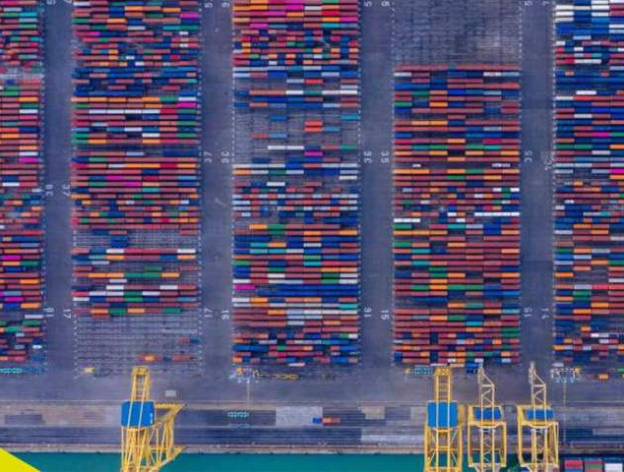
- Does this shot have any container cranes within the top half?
No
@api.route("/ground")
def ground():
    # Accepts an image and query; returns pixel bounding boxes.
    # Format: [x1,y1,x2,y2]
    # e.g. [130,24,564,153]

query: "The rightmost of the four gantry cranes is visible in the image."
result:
[509,361,557,472]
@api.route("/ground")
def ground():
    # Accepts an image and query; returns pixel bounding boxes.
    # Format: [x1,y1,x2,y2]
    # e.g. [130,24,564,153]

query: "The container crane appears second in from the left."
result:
[422,365,464,472]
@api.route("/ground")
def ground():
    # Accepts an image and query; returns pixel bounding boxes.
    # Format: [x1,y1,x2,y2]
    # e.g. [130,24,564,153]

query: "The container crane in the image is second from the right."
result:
[463,361,507,472]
